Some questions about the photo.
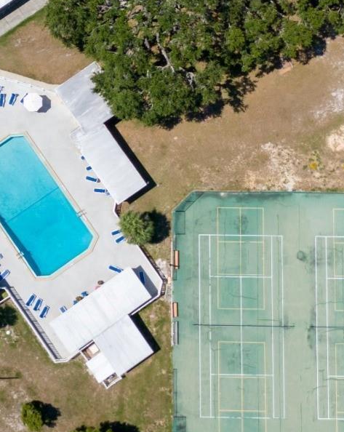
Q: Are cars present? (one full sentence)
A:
No, the picture doesn't show any car.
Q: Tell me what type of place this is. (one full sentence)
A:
What you see here is a sports ground.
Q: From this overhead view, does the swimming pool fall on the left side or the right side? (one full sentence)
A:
The swimming pool appears in the left half of the scene.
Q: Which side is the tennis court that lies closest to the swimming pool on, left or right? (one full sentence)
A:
It is on the right.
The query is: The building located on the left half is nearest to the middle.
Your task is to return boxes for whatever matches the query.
[75,124,148,205]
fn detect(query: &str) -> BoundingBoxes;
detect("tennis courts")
[300,192,344,432]
[173,191,302,432]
